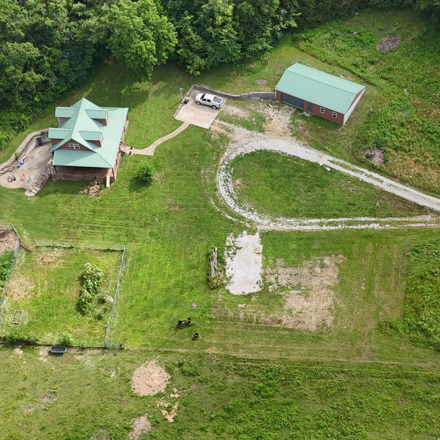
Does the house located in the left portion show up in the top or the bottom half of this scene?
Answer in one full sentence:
It is in the top half that the house located in the left portion appears.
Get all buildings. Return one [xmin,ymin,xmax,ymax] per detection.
[274,58,365,125]
[49,97,132,192]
